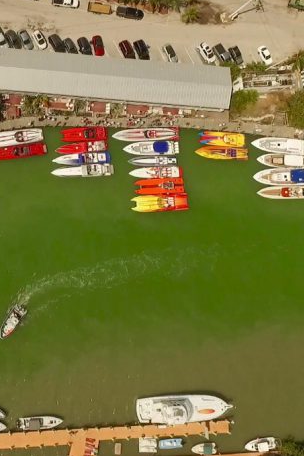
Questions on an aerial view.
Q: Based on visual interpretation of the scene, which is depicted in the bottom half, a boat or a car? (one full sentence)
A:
There is a boat in the bottom half.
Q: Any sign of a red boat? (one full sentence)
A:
Yes, this view includes a red boat.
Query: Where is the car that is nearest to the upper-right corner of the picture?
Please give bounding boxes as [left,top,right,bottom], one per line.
[284,0,304,13]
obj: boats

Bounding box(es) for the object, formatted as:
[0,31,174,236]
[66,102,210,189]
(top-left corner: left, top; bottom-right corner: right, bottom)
[128,165,185,177]
[0,143,49,160]
[251,167,304,186]
[60,127,109,142]
[158,438,189,451]
[16,416,64,431]
[55,140,109,154]
[255,154,304,168]
[255,185,304,199]
[127,155,180,166]
[129,193,191,212]
[0,128,46,149]
[50,163,115,177]
[189,441,218,456]
[134,394,233,434]
[249,137,304,155]
[197,130,248,147]
[0,306,25,339]
[111,127,181,140]
[193,146,250,160]
[51,151,113,165]
[122,139,181,155]
[133,176,186,192]
[243,436,285,453]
